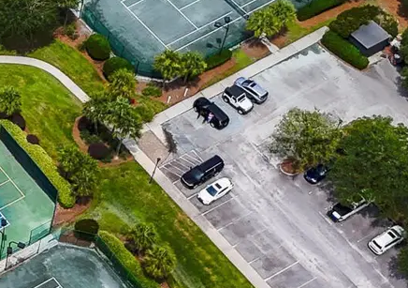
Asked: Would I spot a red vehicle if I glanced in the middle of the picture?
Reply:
No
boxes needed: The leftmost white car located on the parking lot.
[195,177,234,205]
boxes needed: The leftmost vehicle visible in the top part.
[193,98,229,131]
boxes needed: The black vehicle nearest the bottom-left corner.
[180,155,224,188]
